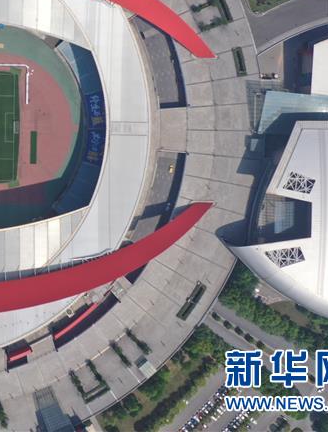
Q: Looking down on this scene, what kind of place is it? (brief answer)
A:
sports ground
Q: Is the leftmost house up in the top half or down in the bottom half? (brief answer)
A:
bottom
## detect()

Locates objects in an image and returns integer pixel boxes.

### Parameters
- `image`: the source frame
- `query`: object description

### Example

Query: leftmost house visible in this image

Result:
[33,385,75,432]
